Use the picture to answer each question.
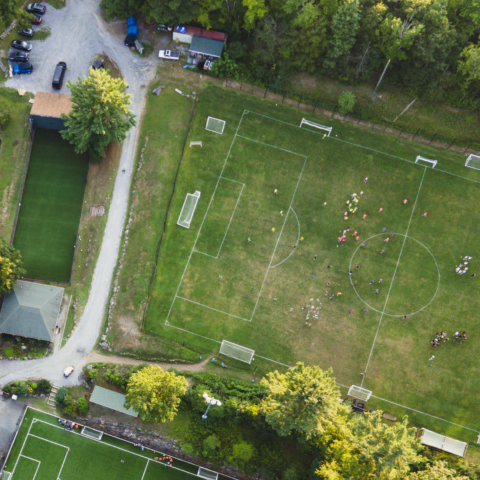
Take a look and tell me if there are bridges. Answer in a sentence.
No, I find no bridge anywhere in the image.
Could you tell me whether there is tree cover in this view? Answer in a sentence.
Yes, there is tree cover in the image.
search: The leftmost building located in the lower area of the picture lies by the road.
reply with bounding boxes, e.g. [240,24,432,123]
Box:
[0,280,64,343]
